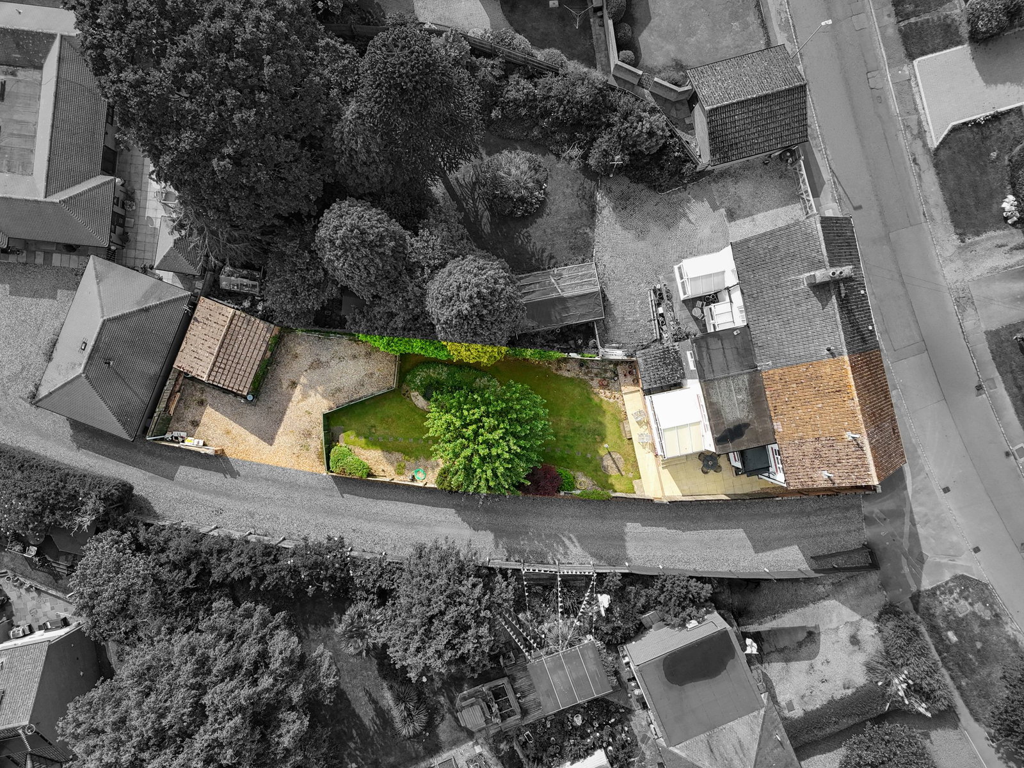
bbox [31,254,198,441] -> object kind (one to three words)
building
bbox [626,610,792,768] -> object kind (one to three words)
house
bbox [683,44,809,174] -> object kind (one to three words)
building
